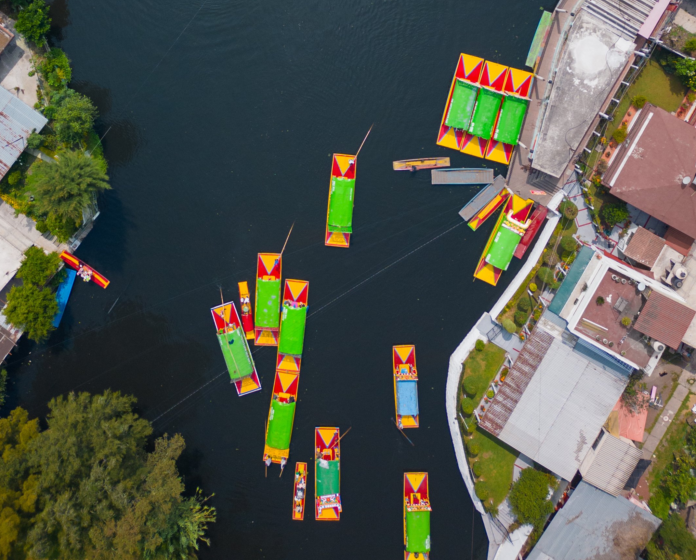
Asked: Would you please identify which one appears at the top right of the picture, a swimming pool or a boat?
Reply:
boat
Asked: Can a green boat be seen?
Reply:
Yes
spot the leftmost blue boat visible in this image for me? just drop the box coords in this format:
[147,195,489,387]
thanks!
[50,267,76,328]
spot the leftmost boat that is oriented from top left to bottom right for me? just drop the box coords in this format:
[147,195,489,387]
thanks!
[61,250,111,290]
